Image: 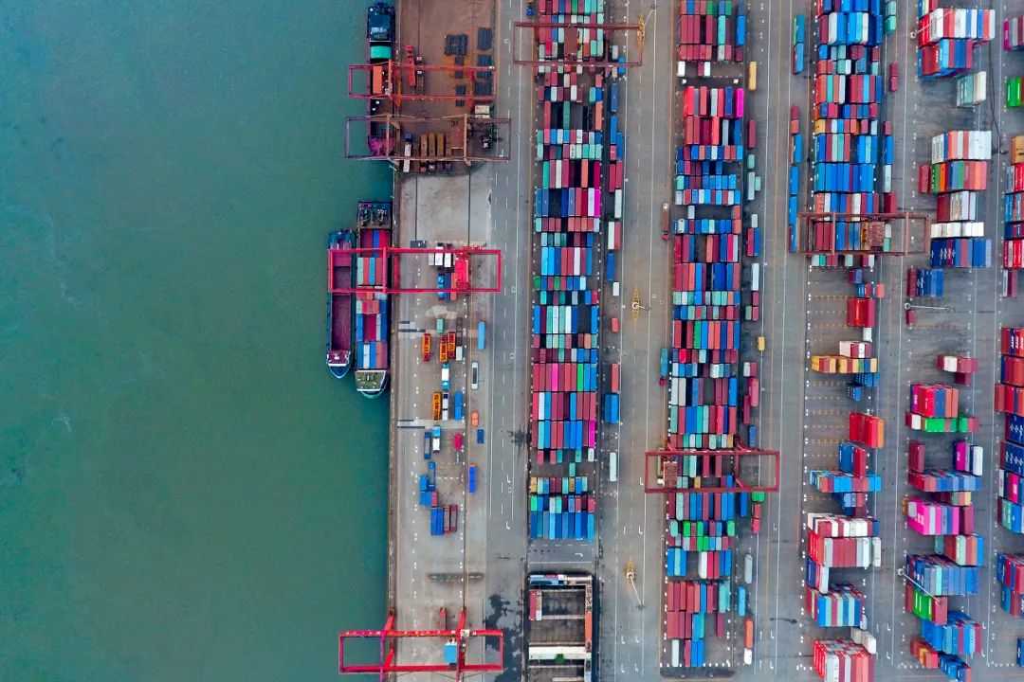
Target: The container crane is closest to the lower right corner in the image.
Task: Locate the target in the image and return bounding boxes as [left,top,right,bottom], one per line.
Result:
[644,441,780,495]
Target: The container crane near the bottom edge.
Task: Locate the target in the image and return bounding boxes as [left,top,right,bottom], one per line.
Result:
[338,603,529,682]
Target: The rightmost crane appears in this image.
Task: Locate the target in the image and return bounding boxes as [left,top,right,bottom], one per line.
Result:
[797,209,929,257]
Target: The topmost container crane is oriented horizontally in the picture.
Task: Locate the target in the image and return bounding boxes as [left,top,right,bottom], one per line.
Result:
[514,19,642,82]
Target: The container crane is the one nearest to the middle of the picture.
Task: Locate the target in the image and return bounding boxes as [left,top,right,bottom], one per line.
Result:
[327,245,502,297]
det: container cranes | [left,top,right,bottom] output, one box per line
[327,245,502,297]
[644,441,780,495]
[347,57,500,117]
[514,19,642,82]
[797,209,929,257]
[344,111,511,173]
[338,603,529,682]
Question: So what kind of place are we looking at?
port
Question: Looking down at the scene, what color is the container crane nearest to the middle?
red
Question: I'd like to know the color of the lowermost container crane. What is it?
red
